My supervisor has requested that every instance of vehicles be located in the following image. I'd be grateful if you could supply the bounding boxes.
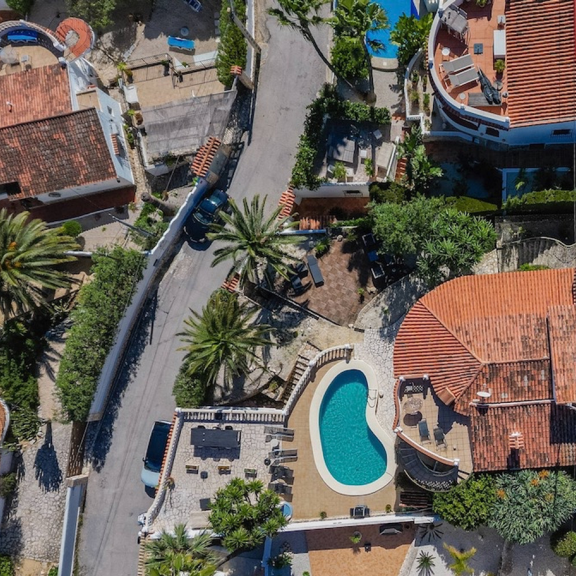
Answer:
[131,422,166,489]
[178,188,235,246]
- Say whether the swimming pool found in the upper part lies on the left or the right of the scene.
right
